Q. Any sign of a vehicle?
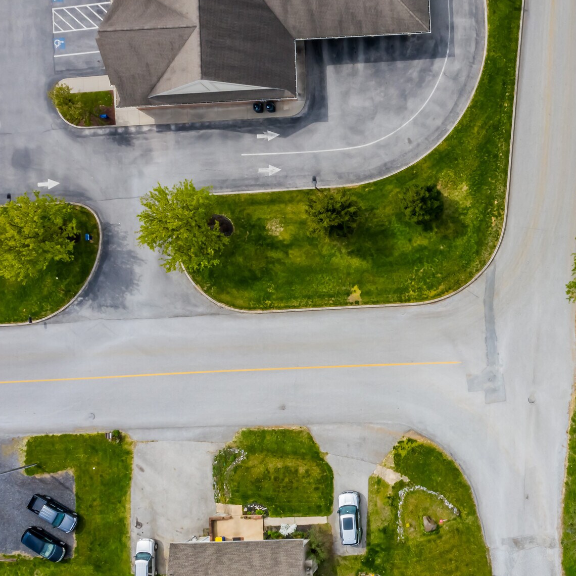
Yes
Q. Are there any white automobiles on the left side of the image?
Yes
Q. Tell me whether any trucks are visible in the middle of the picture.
No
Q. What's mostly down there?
paved ground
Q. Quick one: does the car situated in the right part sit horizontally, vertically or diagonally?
vertically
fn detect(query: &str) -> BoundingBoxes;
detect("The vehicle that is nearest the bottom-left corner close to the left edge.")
[19,523,69,561]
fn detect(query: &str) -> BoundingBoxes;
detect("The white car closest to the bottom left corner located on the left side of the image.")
[133,537,161,576]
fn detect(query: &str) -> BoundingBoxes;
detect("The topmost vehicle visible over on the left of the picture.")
[25,491,81,532]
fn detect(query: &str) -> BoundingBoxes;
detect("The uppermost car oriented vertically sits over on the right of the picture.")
[337,492,362,545]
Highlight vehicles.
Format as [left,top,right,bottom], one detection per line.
[19,523,69,561]
[133,537,161,576]
[337,492,362,545]
[25,491,81,532]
